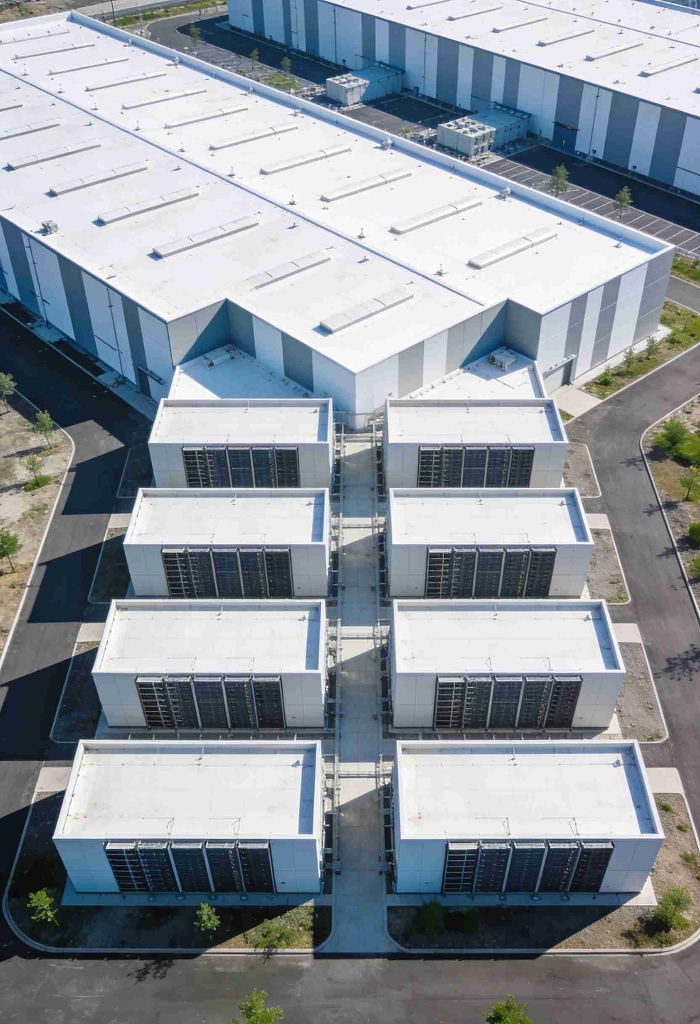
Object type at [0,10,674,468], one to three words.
warehouse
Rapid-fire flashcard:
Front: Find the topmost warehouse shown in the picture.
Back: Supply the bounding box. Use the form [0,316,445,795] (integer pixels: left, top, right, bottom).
[231,0,700,197]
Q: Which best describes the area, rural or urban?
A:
urban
